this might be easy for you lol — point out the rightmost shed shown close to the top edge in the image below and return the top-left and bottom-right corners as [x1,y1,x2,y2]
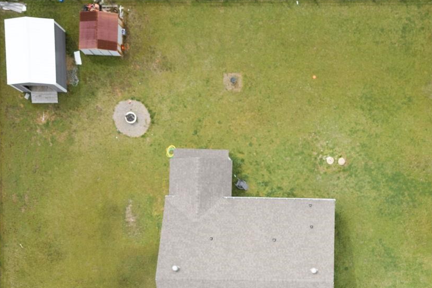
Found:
[79,11,123,57]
